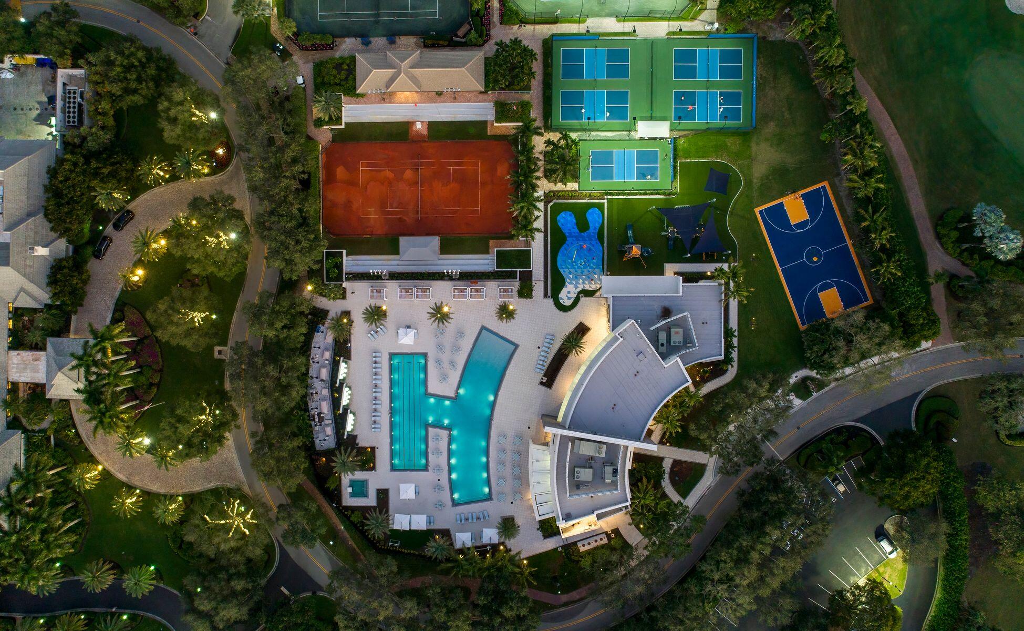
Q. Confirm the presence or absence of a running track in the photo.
No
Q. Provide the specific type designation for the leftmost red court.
tennis court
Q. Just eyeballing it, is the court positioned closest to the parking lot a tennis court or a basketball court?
basketball court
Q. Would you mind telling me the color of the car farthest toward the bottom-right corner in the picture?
white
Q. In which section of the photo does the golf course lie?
top right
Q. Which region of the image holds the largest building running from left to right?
top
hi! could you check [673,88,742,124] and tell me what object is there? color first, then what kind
blue sports court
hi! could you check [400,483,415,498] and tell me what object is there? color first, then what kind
white umbrella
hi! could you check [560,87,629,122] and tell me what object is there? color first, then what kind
blue sports court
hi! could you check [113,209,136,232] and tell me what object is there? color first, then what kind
black car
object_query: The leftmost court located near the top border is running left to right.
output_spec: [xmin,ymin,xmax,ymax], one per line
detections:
[286,0,471,36]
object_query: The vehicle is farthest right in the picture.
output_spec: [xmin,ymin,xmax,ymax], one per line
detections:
[876,533,899,558]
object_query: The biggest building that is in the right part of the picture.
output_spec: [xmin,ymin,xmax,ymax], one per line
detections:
[542,276,723,539]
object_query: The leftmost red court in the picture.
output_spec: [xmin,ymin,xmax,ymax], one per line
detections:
[322,140,519,236]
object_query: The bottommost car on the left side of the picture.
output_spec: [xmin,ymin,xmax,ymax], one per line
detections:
[95,235,114,260]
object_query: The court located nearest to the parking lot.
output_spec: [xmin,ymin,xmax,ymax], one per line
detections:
[755,182,873,329]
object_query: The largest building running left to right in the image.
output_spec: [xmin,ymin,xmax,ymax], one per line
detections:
[356,50,484,93]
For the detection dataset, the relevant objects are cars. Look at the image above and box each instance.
[113,209,136,232]
[95,235,114,260]
[876,533,899,558]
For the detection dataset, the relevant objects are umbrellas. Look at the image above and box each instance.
[386,35,396,45]
[400,483,415,498]
[482,527,497,543]
[411,513,426,529]
[361,36,371,46]
[394,513,410,529]
[456,531,471,547]
[400,328,416,344]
